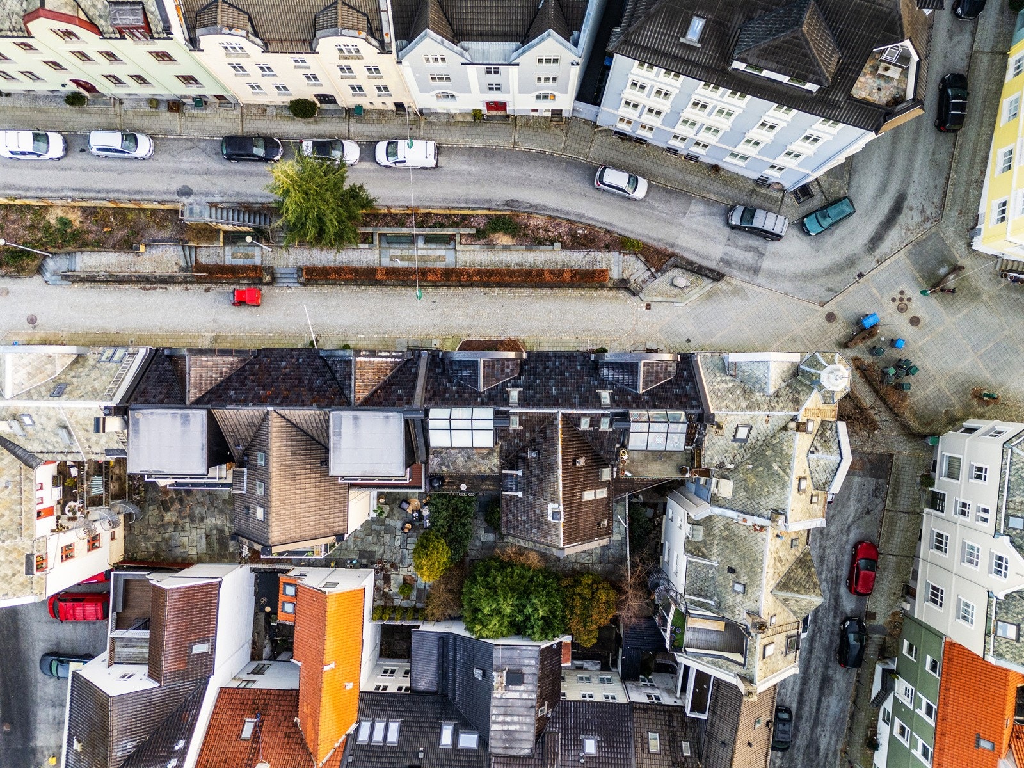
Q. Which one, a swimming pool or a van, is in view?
van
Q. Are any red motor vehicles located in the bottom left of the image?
Yes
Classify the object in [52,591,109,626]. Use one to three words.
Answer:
van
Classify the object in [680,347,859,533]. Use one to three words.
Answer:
house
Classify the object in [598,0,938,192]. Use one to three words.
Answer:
house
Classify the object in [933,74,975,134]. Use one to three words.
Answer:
car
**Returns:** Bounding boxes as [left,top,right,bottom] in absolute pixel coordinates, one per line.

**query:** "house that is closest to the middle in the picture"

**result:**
[400,346,719,552]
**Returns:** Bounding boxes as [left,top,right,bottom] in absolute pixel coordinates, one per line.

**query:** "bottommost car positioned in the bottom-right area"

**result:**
[773,701,798,755]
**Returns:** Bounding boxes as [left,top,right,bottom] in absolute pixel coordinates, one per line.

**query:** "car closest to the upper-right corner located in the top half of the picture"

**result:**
[950,0,989,33]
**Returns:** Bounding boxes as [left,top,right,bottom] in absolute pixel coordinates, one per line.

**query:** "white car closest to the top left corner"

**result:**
[0,126,70,163]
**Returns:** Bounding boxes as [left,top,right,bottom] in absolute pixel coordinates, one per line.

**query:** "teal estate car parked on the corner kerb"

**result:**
[800,193,861,237]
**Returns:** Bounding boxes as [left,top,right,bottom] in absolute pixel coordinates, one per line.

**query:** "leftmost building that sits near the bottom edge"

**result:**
[62,563,253,768]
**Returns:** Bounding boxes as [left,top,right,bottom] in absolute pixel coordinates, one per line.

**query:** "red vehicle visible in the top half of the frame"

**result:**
[228,286,262,308]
